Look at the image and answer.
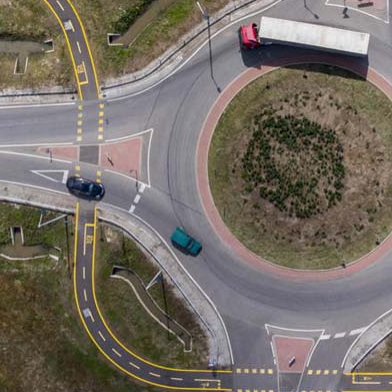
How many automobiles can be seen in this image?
2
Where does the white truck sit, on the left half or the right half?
right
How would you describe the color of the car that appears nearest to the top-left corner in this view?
black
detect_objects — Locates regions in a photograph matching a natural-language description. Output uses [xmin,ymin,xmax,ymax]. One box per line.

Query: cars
[68,178,105,199]
[171,227,201,253]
